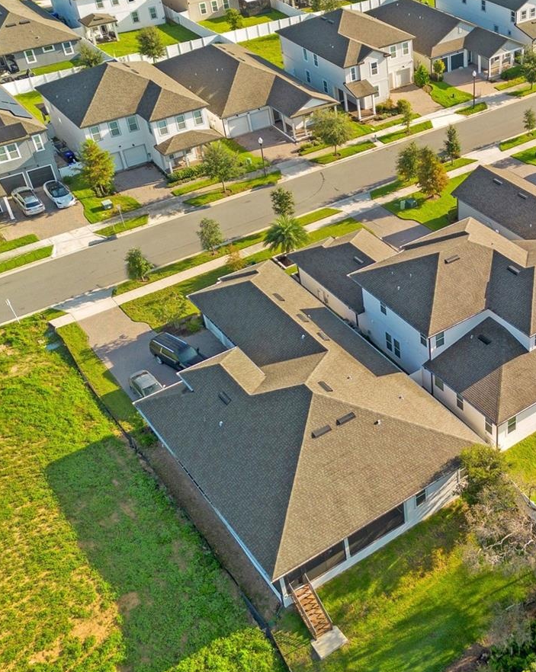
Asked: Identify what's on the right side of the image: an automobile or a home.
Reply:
home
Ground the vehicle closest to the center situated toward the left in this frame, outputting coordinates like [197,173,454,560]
[144,322,201,381]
